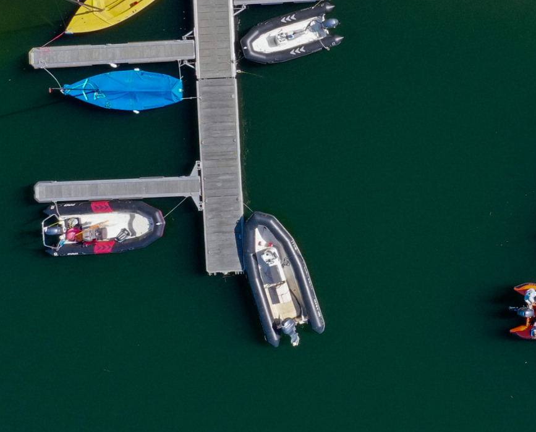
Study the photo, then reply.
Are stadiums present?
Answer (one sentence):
No, I can't see a single stadium in this photo.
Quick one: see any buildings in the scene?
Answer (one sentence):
No, I find no building anywhere in the image.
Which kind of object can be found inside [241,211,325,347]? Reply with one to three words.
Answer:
boat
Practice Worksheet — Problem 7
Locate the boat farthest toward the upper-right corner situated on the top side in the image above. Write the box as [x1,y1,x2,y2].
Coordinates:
[239,2,344,64]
